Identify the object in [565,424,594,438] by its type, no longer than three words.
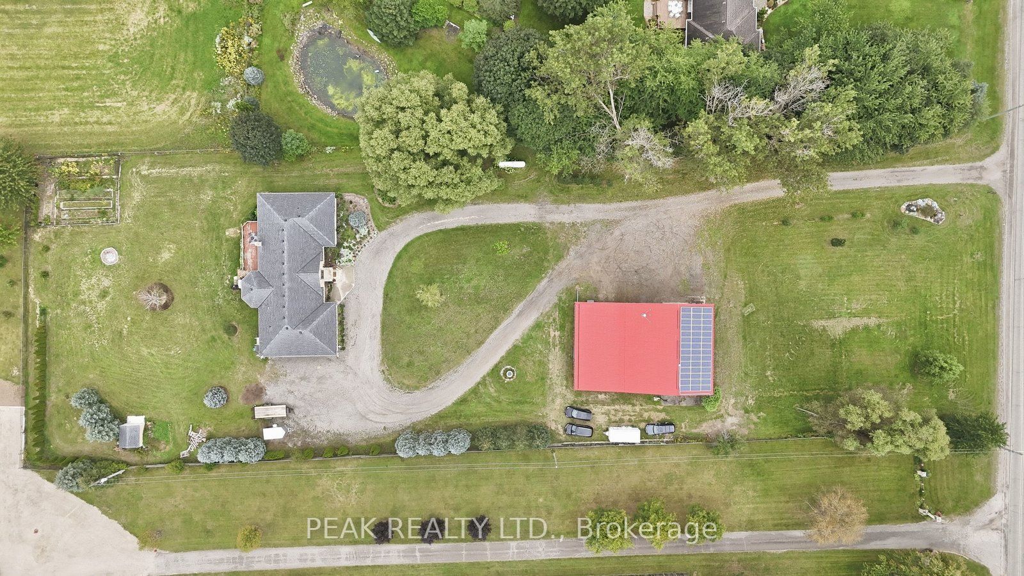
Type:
car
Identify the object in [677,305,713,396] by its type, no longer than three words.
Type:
solar array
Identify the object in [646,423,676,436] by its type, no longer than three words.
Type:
vehicle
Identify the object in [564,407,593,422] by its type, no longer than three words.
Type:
car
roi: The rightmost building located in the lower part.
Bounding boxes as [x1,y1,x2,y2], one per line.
[574,302,713,396]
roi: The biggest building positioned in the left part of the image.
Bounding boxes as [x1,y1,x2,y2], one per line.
[241,192,340,357]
